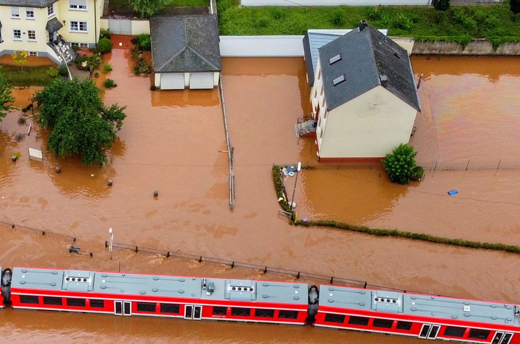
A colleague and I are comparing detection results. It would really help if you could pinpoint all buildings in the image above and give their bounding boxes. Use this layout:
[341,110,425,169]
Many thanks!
[240,0,434,10]
[285,15,424,160]
[151,15,222,90]
[0,0,105,66]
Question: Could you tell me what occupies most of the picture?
water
